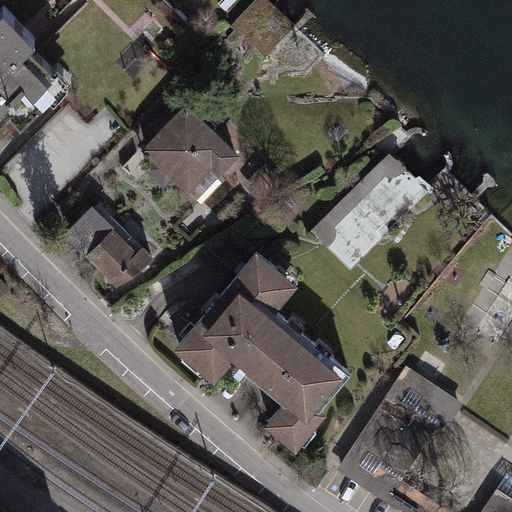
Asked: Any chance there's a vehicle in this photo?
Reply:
Yes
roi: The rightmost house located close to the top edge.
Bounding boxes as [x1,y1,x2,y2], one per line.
[232,0,294,56]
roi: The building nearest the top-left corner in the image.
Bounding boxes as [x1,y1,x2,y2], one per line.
[0,4,72,126]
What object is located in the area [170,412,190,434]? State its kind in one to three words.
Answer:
car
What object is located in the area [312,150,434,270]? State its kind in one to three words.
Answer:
house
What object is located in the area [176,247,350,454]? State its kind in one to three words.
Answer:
house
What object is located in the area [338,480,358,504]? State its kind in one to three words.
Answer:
car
